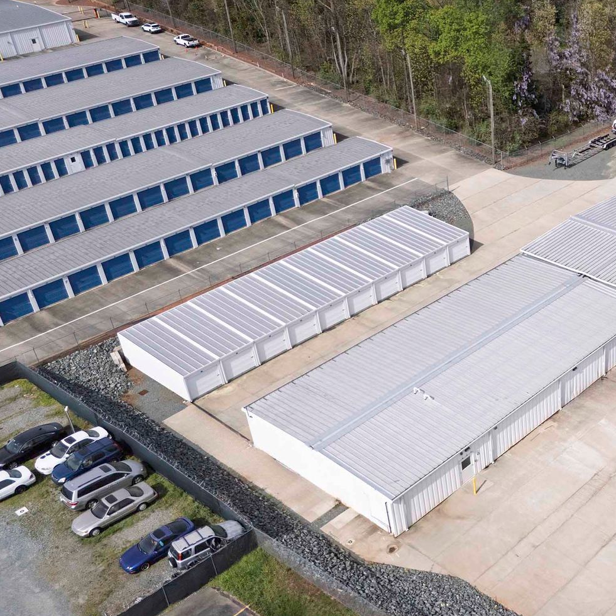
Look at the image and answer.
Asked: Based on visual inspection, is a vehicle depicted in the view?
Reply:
Yes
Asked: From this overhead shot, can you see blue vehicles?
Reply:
Yes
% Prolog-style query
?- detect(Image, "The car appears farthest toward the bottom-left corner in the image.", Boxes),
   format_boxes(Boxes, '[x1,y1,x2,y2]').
[0,471,42,511]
